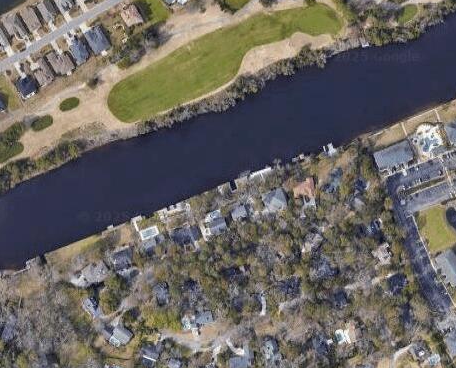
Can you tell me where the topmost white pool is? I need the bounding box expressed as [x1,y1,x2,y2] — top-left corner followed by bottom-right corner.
[416,123,444,156]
